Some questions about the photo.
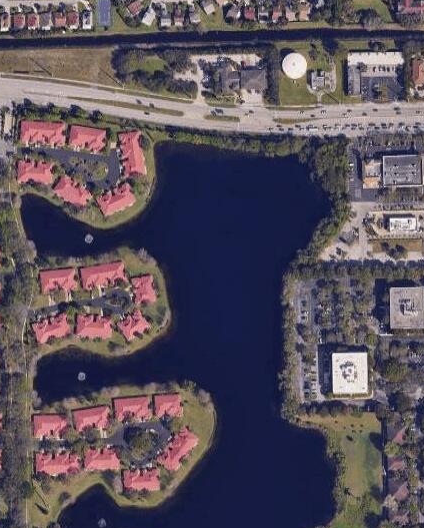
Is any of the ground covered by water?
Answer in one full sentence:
Yes, there is water in the image.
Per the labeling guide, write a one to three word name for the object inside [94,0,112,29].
sports court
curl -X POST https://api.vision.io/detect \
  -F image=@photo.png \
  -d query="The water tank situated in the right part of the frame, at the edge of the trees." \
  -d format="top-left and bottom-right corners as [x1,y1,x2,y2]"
[282,54,307,83]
